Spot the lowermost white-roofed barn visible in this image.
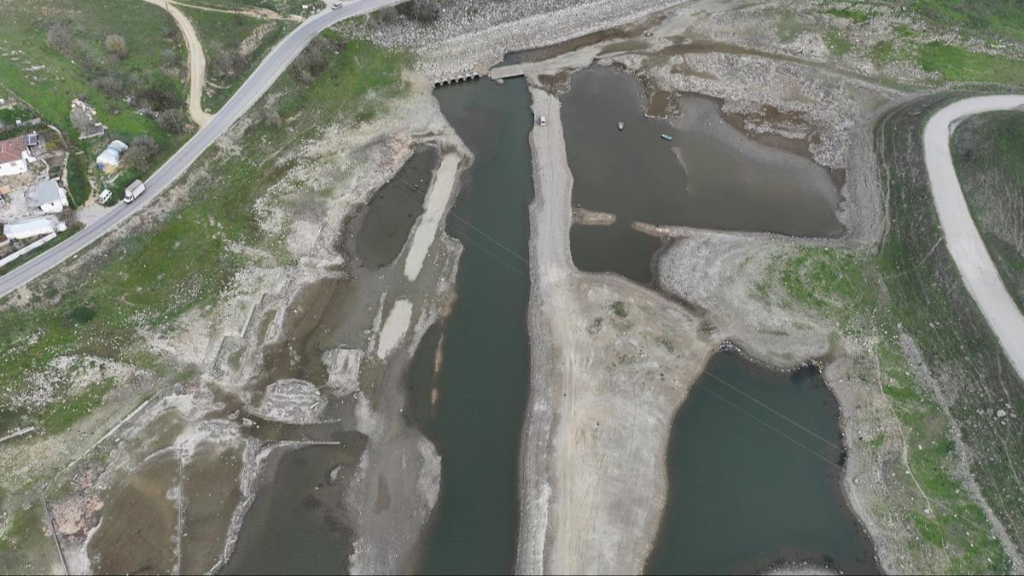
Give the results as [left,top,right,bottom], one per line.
[3,215,56,241]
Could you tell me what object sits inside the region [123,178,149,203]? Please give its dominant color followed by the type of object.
white truck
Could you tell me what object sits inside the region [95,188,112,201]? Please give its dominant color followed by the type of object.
white vehicle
